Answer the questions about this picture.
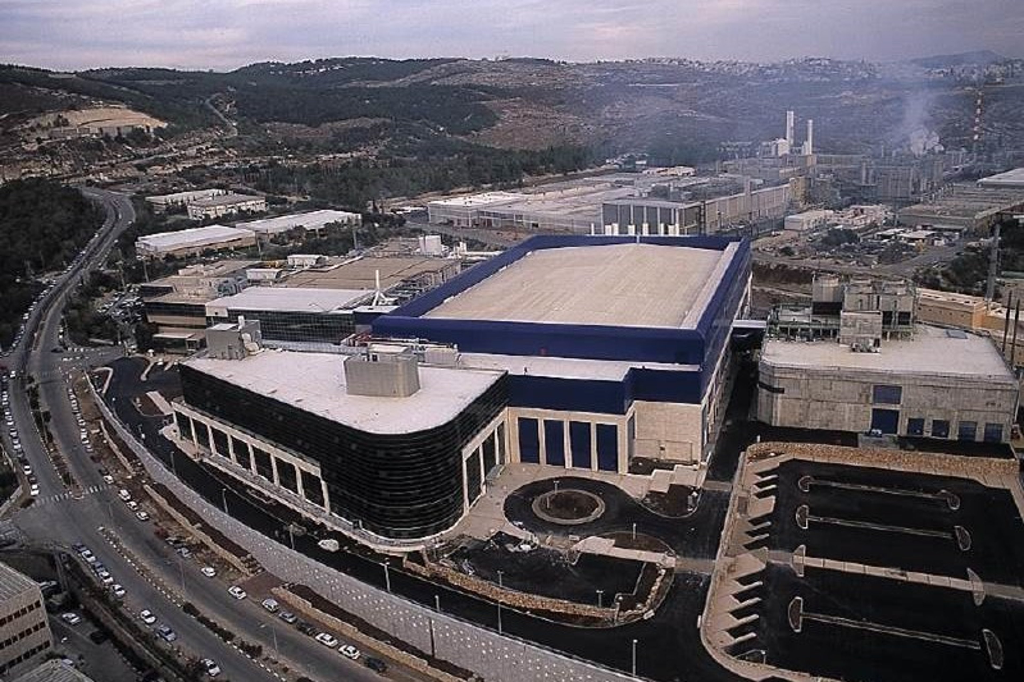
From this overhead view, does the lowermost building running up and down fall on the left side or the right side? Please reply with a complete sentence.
The lowermost building running up and down appears in the left half of the scene.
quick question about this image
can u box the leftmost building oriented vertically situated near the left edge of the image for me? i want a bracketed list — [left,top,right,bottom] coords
[0,562,55,679]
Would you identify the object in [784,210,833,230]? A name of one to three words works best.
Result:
building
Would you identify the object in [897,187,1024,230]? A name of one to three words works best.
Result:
building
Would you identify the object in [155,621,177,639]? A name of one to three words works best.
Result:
car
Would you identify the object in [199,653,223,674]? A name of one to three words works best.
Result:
car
